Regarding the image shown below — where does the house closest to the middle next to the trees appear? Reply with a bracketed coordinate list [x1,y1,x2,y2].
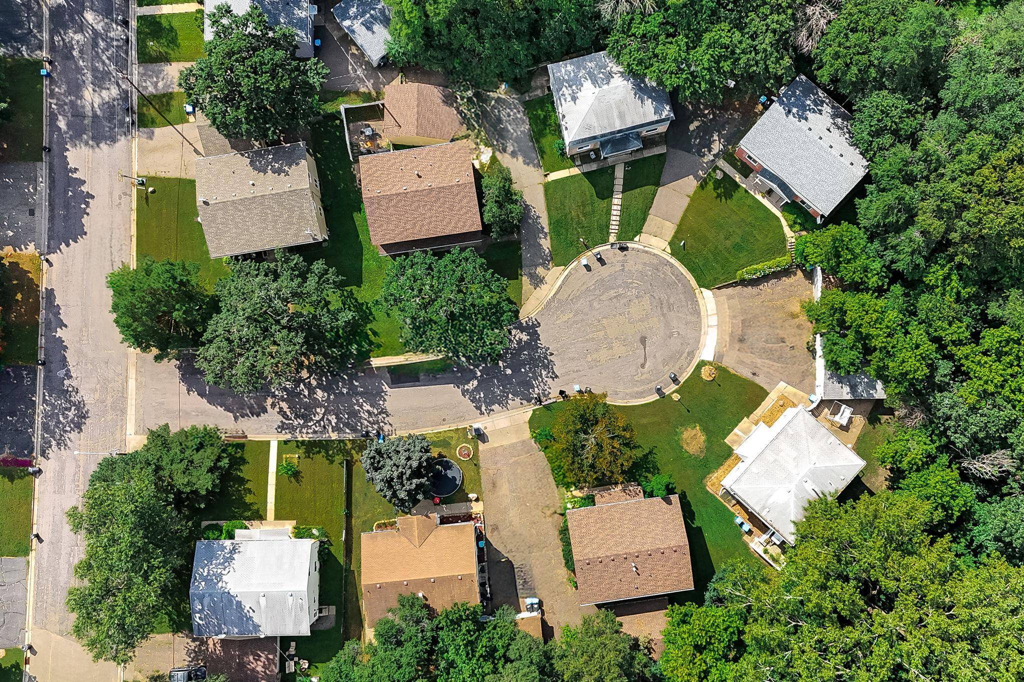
[359,139,483,261]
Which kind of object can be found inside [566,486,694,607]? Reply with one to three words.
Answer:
house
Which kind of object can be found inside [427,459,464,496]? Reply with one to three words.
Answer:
trampoline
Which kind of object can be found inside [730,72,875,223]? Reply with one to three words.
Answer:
house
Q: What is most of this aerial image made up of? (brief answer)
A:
trees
